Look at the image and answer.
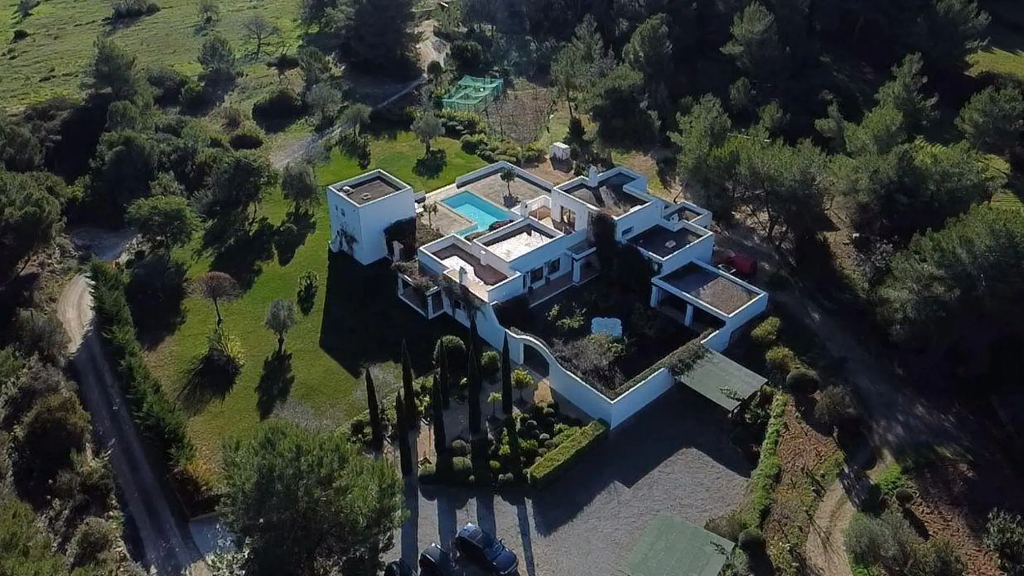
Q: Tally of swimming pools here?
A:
1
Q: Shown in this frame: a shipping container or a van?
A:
van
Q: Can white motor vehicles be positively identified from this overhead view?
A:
No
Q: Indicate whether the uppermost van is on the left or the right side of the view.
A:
right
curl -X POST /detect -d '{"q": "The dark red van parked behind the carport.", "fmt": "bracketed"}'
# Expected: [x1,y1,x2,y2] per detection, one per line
[718,245,753,280]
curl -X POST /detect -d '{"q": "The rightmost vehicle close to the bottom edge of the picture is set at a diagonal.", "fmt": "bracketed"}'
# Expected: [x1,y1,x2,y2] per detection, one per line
[450,517,524,576]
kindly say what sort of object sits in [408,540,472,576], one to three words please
car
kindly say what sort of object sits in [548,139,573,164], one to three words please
shed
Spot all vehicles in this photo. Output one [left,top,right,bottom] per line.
[718,245,753,280]
[362,553,409,576]
[450,517,524,576]
[408,540,472,576]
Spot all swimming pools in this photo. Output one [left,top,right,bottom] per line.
[438,189,510,244]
